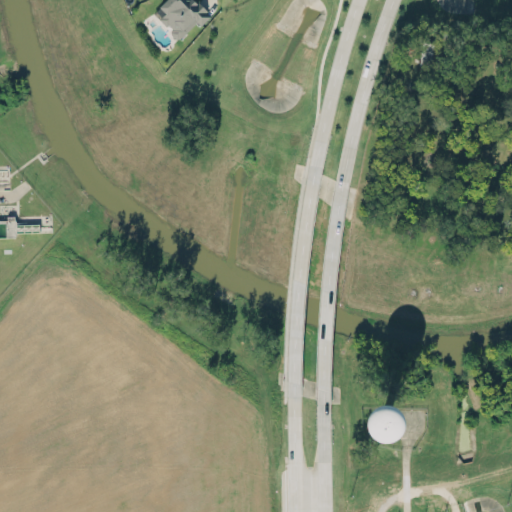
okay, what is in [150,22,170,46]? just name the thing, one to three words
swimming pool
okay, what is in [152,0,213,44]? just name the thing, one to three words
house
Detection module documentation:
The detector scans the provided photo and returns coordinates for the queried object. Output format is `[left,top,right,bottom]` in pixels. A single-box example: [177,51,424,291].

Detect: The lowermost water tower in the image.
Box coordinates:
[368,404,406,444]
